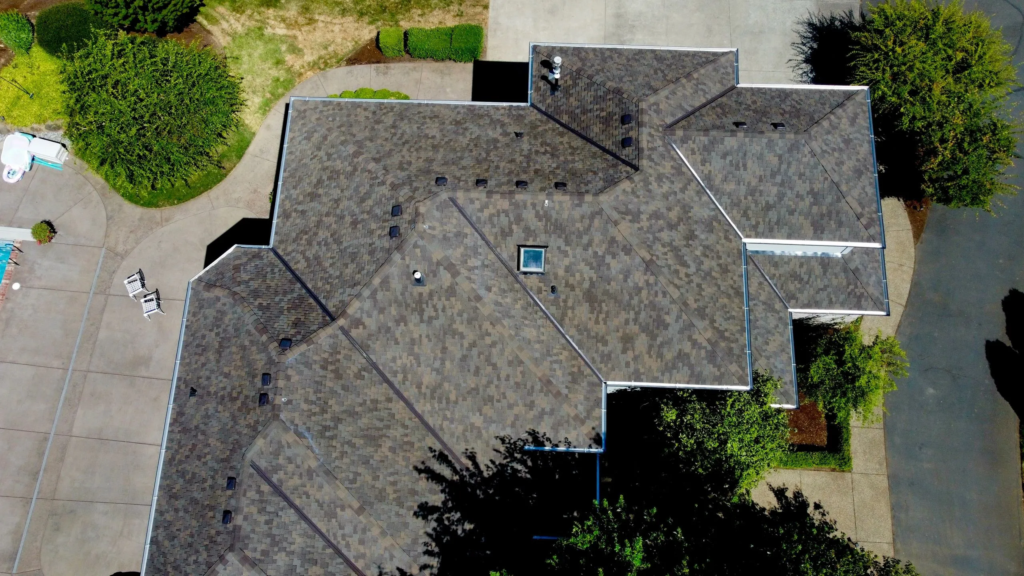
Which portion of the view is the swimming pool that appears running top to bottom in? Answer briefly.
left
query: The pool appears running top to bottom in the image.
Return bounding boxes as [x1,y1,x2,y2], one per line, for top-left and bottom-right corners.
[0,239,23,307]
